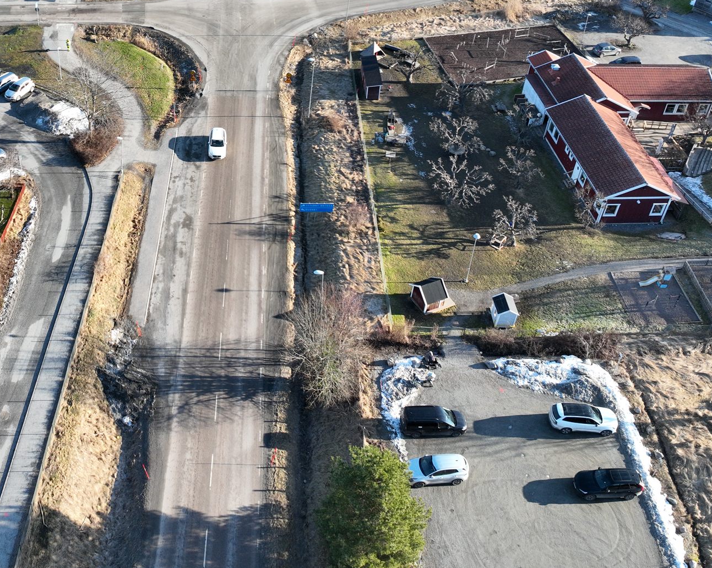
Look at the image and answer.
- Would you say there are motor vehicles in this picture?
Yes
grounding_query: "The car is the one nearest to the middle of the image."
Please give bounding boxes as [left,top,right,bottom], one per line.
[399,405,471,439]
